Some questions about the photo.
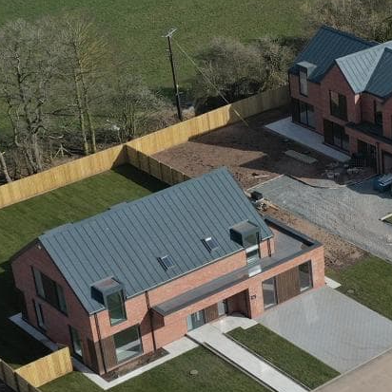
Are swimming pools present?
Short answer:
No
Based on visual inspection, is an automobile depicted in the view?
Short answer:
No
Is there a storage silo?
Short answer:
No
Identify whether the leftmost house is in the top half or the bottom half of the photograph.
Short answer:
bottom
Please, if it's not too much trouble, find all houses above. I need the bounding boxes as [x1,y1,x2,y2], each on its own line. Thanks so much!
[4,164,329,378]
[286,27,392,174]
